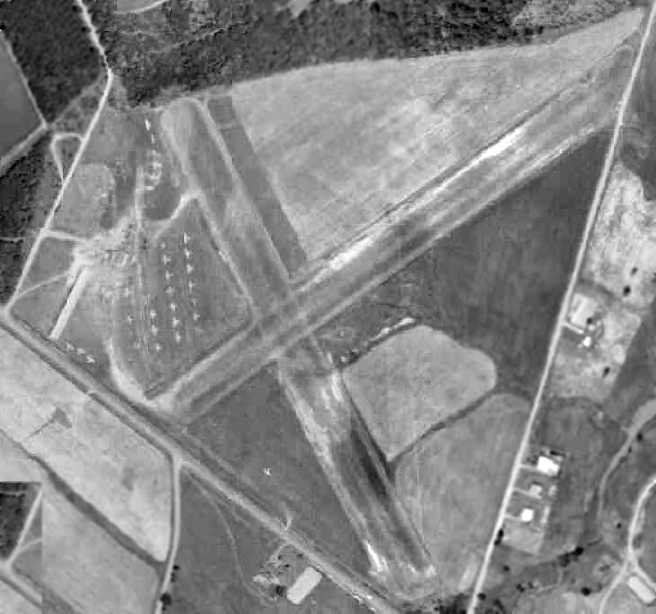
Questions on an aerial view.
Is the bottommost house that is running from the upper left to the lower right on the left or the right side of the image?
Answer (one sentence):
The bottommost house that is running from the upper left to the lower right appears in the right half of the scene.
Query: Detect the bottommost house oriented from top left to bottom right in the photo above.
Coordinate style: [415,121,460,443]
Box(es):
[628,576,655,604]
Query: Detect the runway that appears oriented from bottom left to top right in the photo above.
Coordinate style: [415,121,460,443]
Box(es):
[141,34,639,427]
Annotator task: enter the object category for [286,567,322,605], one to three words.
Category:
house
